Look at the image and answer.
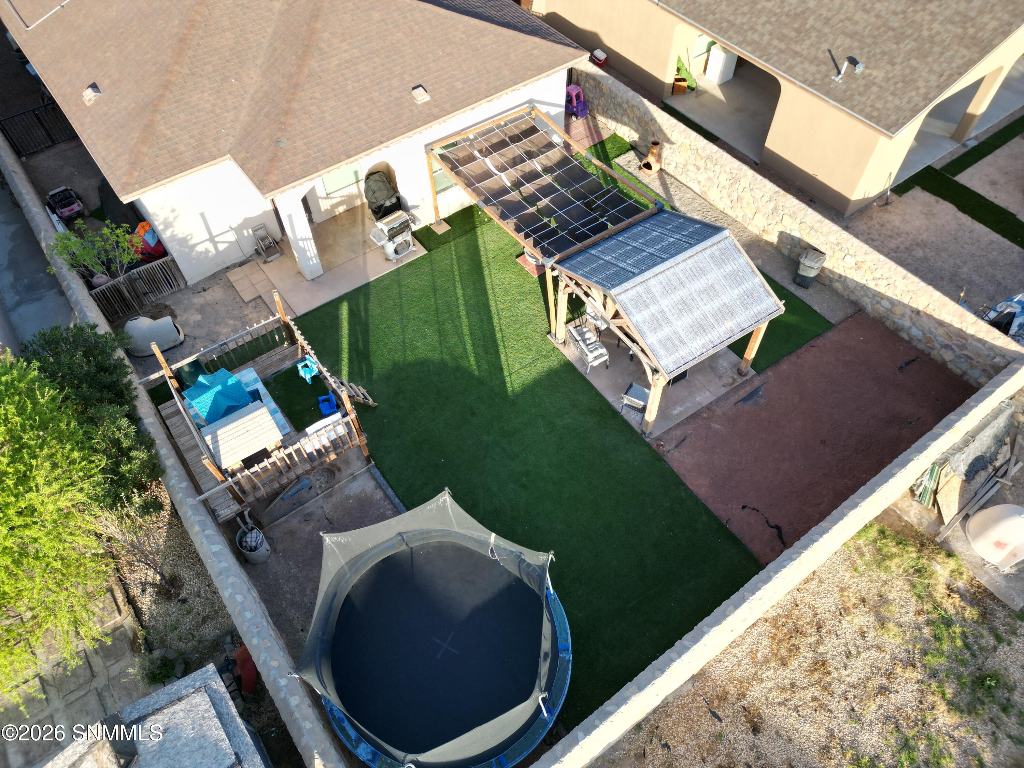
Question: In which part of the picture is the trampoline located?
bottom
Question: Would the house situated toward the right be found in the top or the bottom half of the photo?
top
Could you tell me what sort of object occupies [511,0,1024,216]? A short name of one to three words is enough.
house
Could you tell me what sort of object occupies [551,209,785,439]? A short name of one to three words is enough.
gazebo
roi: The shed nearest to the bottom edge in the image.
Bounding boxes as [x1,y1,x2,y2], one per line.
[49,658,301,768]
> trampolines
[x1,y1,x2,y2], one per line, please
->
[288,486,574,768]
